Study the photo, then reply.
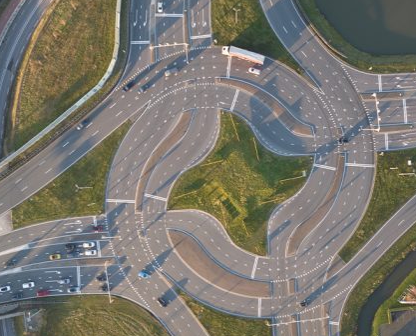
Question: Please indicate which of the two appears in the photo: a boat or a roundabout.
roundabout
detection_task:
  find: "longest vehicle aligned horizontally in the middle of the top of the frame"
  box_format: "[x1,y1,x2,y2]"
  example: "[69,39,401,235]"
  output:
[223,44,267,64]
